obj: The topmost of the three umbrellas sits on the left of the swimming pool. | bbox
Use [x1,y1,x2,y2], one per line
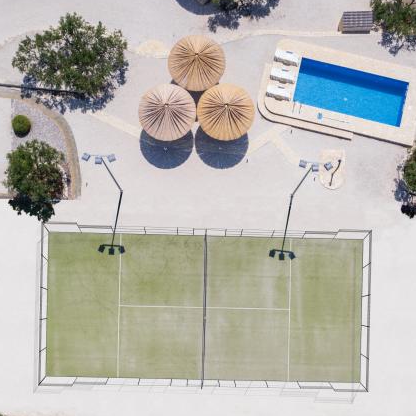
[168,35,225,94]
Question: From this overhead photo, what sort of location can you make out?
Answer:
sports ground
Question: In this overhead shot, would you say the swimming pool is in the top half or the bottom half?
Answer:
top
